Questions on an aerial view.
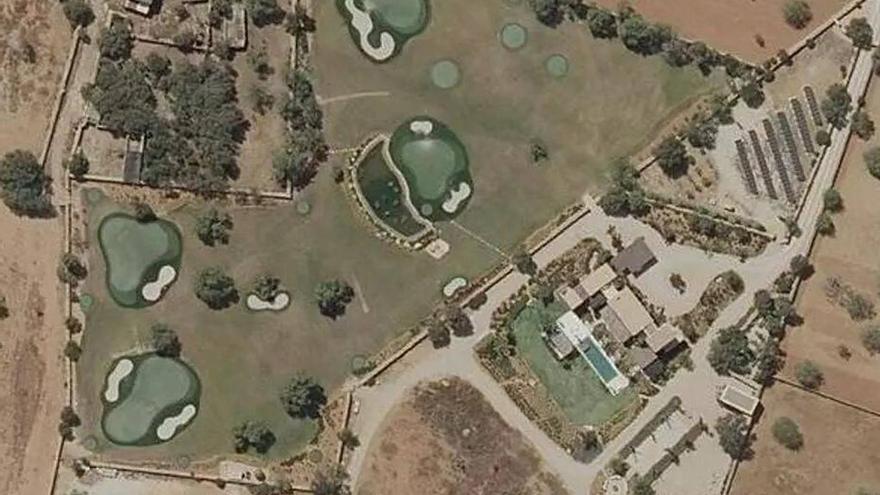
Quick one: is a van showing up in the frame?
No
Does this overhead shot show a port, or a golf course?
golf course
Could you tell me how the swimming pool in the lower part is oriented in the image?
diagonally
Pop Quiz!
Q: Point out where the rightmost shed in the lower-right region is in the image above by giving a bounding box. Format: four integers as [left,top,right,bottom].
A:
[720,384,761,416]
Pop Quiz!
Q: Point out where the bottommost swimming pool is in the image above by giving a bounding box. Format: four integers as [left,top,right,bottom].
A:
[557,311,629,394]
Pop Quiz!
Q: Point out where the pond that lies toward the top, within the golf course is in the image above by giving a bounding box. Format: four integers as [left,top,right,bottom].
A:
[351,136,434,242]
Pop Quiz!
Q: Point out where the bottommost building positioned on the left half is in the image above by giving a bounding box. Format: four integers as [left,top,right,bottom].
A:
[226,9,245,49]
